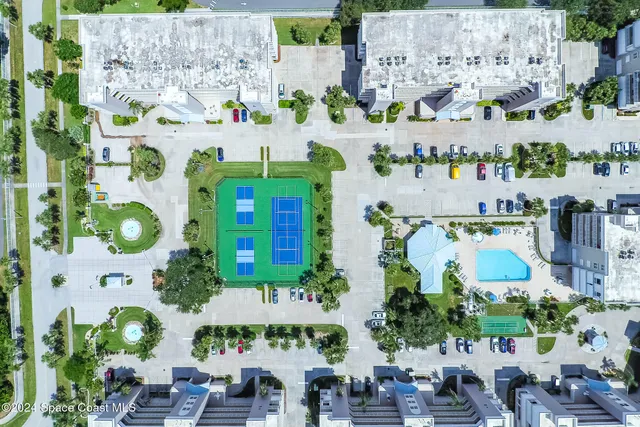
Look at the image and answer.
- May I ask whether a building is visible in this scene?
Yes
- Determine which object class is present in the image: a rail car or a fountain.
fountain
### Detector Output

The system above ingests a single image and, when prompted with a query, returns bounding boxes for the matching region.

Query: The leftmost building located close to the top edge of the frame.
[73,8,279,124]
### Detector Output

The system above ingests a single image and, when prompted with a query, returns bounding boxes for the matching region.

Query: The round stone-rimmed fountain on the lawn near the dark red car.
[121,321,144,343]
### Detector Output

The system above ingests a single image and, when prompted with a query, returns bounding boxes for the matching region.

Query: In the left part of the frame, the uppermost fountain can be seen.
[119,218,142,241]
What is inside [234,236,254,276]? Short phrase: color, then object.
blue sports court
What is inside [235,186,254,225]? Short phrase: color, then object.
blue sports court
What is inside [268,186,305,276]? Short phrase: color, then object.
blue tennis court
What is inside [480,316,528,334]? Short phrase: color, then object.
green sports court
